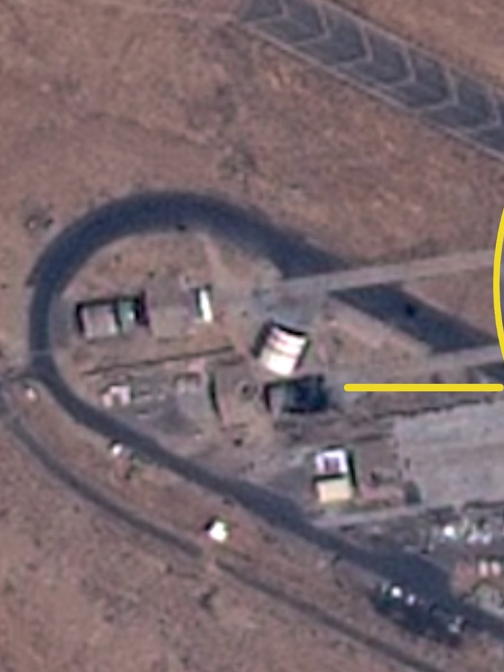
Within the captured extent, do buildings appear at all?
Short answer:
Yes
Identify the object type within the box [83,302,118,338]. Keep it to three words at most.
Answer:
building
